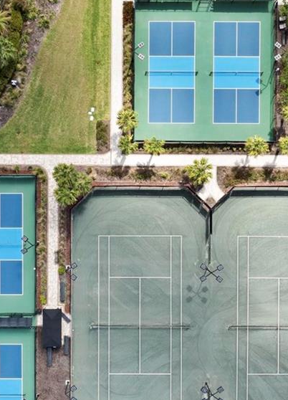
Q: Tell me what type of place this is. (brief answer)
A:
sports ground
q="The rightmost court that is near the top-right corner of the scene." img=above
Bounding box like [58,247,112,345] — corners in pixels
[205,0,276,141]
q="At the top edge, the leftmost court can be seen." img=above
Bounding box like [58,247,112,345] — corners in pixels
[134,0,205,141]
